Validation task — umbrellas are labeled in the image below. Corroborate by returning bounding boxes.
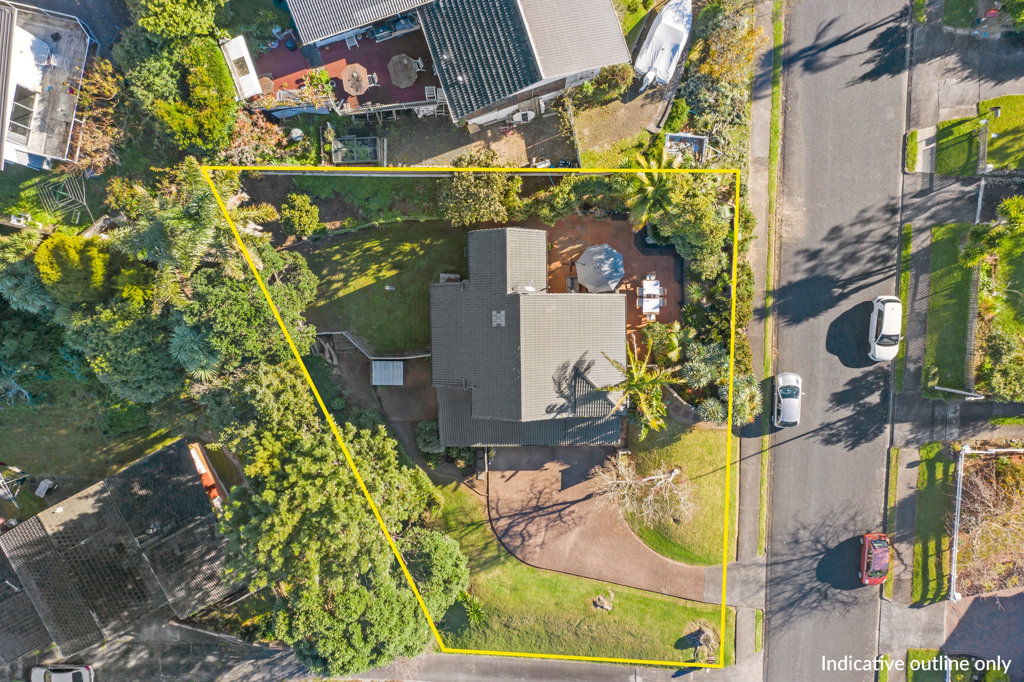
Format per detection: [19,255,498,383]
[563,244,625,293]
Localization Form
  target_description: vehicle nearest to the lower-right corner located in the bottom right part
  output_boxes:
[855,534,889,589]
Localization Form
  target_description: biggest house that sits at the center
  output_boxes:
[429,226,629,448]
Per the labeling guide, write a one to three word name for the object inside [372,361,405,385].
shed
